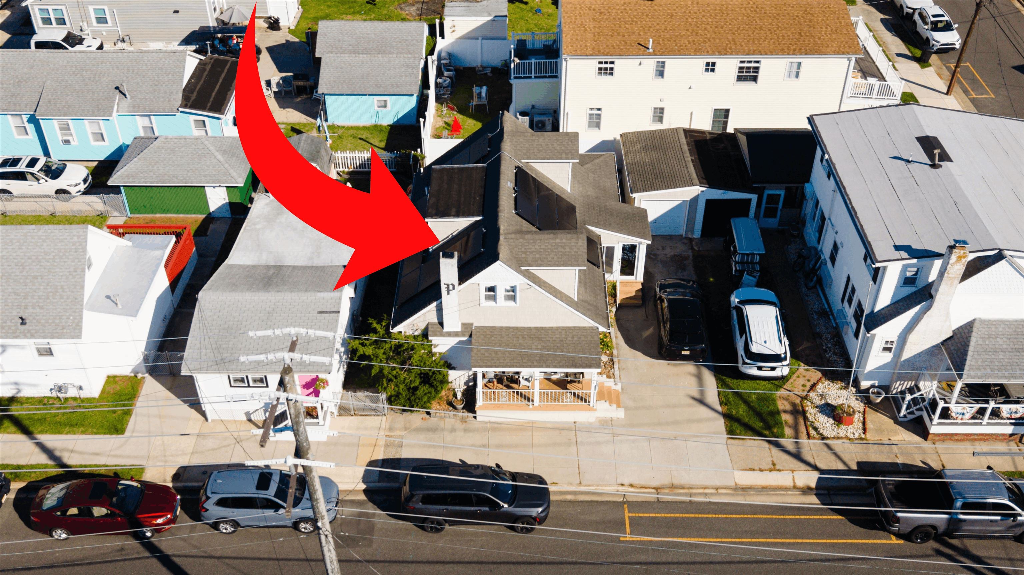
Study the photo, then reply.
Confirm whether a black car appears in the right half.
Yes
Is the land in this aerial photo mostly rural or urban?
urban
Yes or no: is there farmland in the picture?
No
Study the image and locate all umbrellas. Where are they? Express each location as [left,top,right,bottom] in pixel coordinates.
[217,5,257,24]
[324,105,334,145]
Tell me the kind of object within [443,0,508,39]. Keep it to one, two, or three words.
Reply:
building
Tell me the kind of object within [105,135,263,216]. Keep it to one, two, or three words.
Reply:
shed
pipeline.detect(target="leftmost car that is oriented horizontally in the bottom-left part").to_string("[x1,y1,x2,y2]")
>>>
[31,474,185,540]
